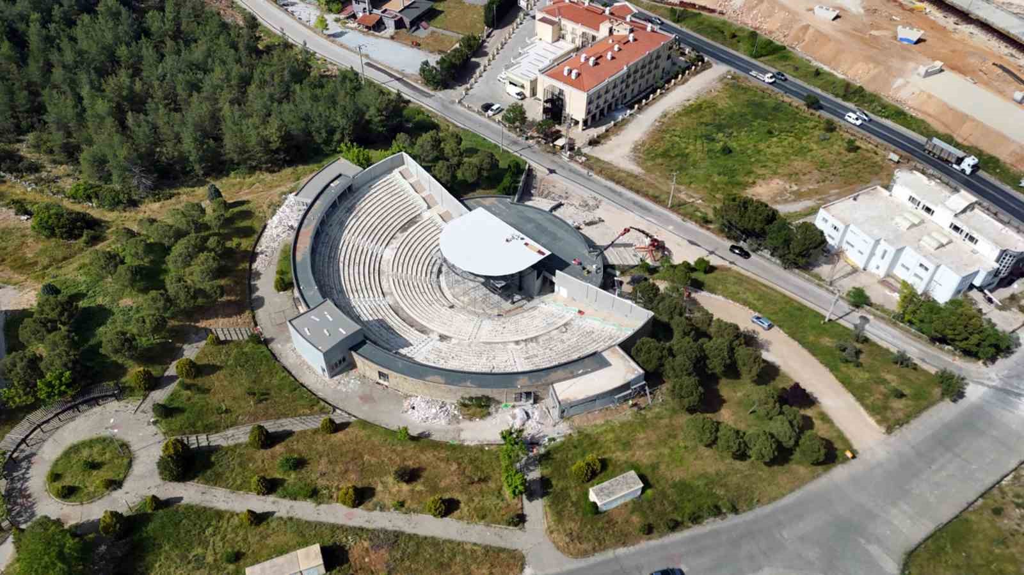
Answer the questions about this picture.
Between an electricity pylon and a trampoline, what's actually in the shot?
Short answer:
electricity pylon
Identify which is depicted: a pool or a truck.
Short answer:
truck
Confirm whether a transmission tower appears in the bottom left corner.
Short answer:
No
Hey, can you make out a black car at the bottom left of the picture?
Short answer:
No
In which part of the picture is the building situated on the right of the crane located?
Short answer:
right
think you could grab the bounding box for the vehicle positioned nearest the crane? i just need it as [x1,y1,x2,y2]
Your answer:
[729,242,752,258]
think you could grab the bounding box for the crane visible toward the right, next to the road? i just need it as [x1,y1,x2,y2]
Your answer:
[595,224,668,264]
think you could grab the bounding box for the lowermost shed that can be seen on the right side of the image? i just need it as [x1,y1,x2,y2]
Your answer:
[588,470,644,511]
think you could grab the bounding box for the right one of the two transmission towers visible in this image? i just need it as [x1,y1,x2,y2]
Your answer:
[825,246,852,288]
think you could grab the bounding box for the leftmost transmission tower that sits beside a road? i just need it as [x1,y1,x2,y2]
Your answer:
[562,116,574,156]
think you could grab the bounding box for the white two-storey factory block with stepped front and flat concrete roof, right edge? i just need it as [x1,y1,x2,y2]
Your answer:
[814,168,1024,305]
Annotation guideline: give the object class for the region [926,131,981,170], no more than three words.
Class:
truck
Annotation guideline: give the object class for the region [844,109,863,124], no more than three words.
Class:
vehicle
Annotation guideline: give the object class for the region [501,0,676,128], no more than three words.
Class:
building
